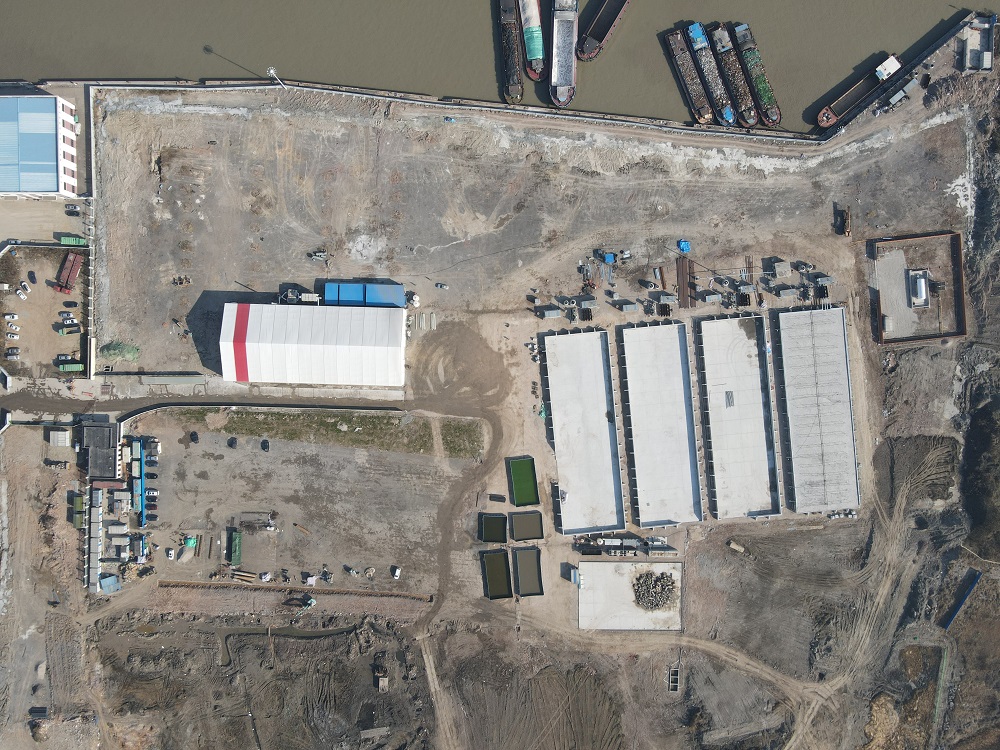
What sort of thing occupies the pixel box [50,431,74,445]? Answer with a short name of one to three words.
shed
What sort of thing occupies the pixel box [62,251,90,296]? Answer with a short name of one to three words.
truck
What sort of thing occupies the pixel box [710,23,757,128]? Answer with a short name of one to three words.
ship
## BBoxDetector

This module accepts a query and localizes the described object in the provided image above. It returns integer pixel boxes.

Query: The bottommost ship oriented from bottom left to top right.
[814,51,908,127]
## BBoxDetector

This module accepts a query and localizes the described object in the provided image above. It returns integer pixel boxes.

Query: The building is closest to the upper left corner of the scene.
[0,96,75,201]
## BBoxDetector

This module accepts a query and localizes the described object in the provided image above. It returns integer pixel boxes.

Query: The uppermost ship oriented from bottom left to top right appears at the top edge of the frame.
[580,0,630,60]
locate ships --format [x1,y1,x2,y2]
[687,20,734,127]
[580,0,630,60]
[521,0,548,81]
[499,0,524,104]
[666,30,712,124]
[814,51,908,127]
[710,23,757,128]
[734,21,778,128]
[551,0,578,106]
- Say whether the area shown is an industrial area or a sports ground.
industrial area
